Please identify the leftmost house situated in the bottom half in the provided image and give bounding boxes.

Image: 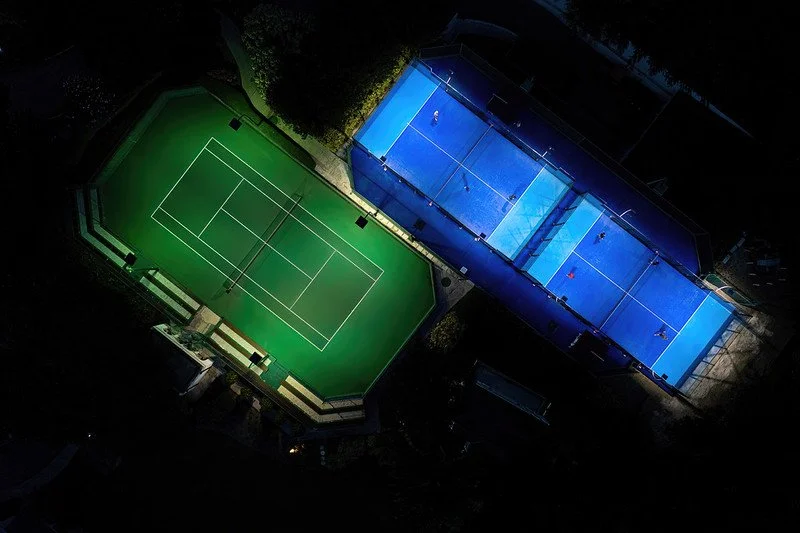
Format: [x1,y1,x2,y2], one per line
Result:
[128,325,212,399]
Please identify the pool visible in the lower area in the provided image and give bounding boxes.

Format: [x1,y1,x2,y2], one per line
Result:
[472,363,554,424]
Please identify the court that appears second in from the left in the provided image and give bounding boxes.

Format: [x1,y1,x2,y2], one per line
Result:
[356,67,566,260]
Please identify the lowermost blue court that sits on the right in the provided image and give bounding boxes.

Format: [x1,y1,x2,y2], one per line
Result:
[521,196,731,389]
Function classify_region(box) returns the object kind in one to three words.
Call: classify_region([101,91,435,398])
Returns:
tennis court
